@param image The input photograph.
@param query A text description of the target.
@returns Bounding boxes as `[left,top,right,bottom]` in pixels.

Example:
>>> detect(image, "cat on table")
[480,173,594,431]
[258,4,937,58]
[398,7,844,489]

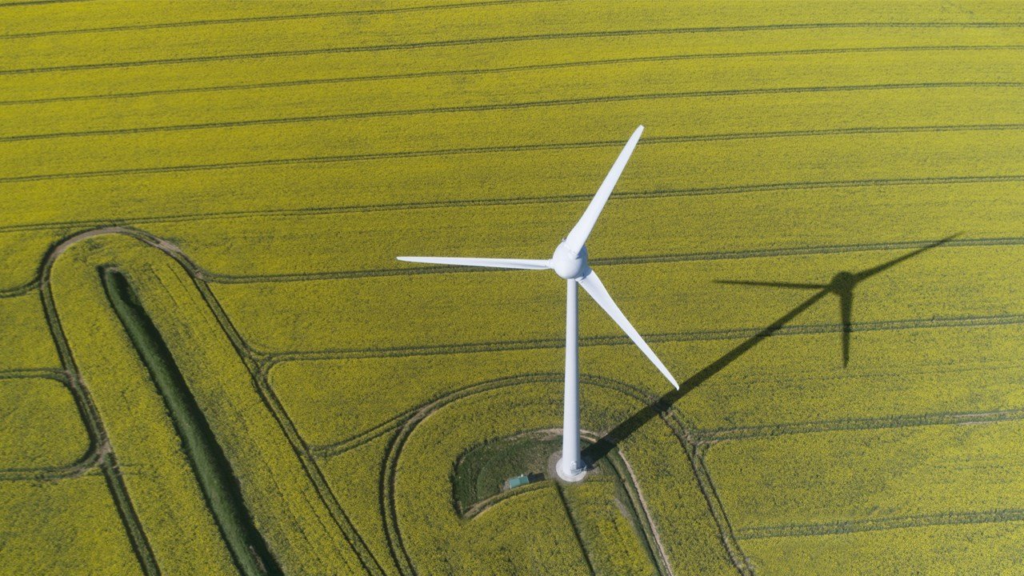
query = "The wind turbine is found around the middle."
[397,121,680,482]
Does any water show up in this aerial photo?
No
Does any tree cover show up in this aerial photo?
No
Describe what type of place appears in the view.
farmland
